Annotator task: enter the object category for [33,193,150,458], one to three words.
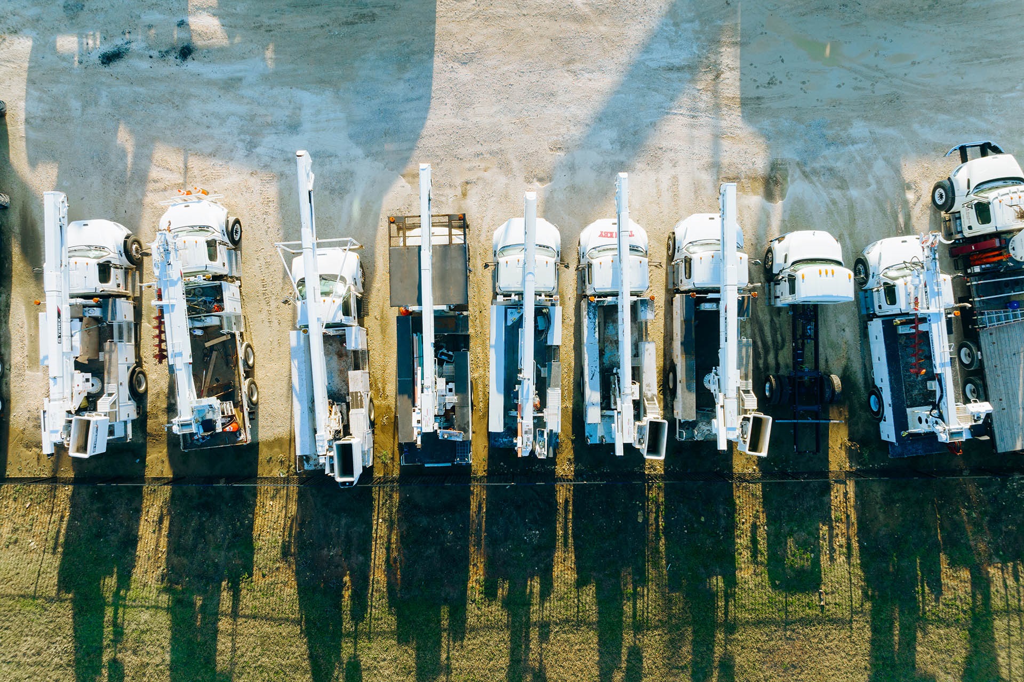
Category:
truck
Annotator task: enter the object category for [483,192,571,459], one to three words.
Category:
truck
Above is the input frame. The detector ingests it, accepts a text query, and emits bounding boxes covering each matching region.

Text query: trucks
[935,137,1024,454]
[137,193,262,452]
[574,173,668,460]
[33,193,150,458]
[851,227,991,462]
[274,151,377,488]
[665,183,773,457]
[483,192,571,459]
[388,164,477,466]
[760,226,861,452]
